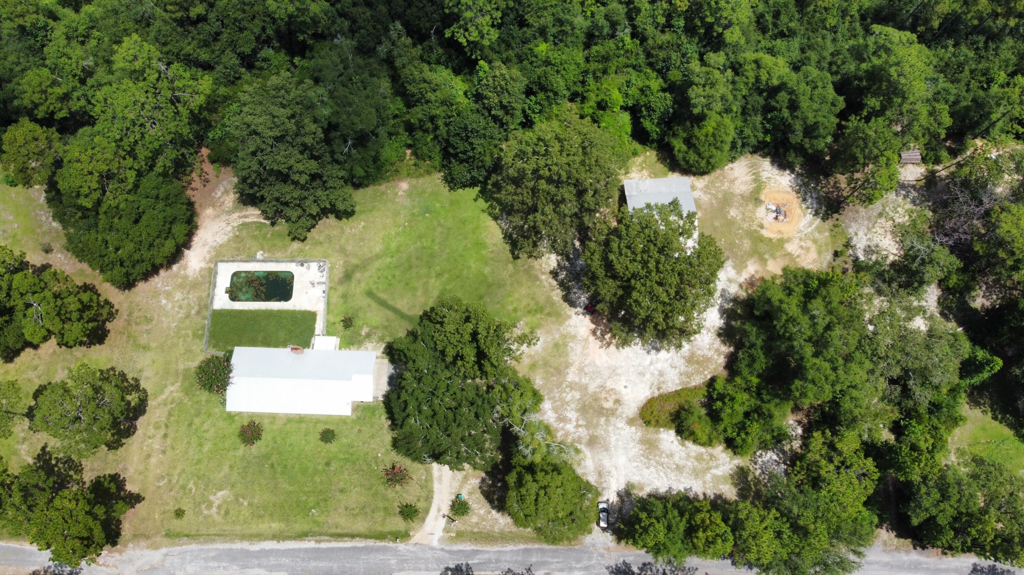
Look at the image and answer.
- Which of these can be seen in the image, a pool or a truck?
pool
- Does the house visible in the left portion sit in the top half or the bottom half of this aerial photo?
bottom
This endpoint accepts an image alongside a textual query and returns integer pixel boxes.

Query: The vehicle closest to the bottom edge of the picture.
[597,501,610,530]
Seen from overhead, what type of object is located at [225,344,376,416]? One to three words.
house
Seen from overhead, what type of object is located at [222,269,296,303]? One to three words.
swimming pool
